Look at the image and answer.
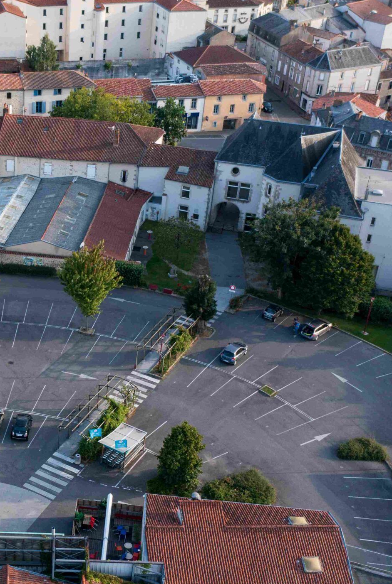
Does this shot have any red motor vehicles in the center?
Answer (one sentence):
No, I see no red motor vehicle in the center.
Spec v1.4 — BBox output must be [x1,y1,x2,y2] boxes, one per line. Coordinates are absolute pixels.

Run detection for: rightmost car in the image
[302,319,338,342]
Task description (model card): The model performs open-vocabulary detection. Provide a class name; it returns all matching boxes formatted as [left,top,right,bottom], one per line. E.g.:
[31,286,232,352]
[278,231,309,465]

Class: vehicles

[12,409,36,437]
[262,99,272,110]
[261,302,289,322]
[0,405,6,434]
[302,319,338,342]
[223,339,250,363]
